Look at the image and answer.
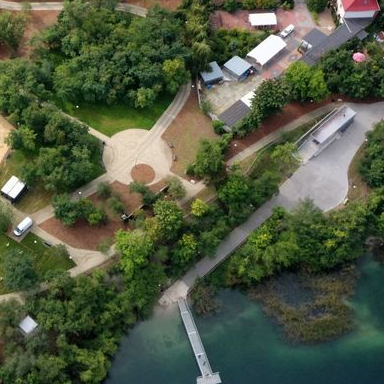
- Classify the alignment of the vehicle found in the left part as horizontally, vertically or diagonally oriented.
diagonally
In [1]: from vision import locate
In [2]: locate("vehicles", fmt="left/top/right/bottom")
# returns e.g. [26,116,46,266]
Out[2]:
[13,213,33,235]
[280,21,295,36]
